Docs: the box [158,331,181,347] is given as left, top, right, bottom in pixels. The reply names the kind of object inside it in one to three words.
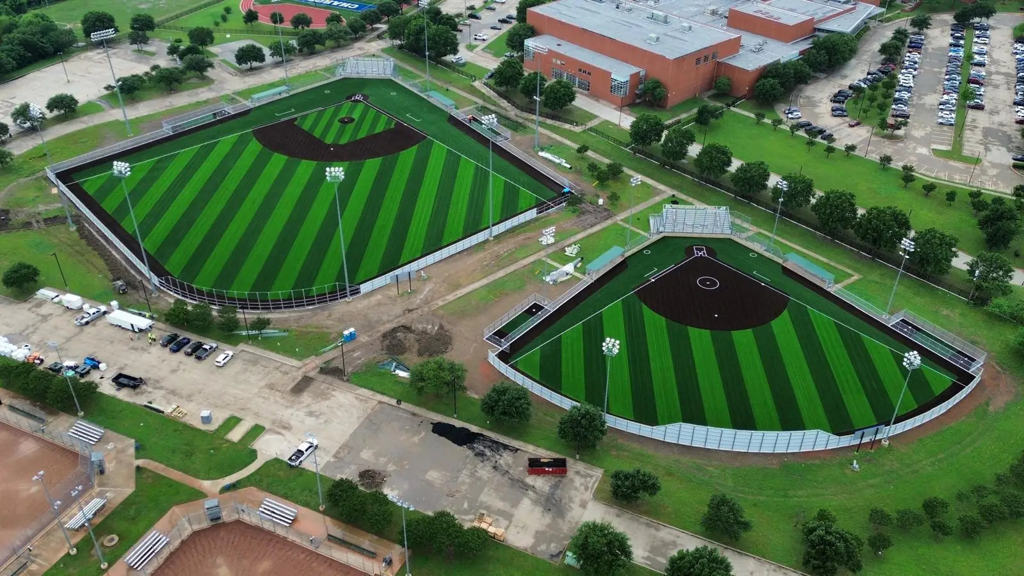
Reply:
car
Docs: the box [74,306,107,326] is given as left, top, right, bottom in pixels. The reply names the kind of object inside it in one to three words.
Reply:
vehicle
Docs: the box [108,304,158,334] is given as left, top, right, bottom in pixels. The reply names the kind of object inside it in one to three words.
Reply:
trailer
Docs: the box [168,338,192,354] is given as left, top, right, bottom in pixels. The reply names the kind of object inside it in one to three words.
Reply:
car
